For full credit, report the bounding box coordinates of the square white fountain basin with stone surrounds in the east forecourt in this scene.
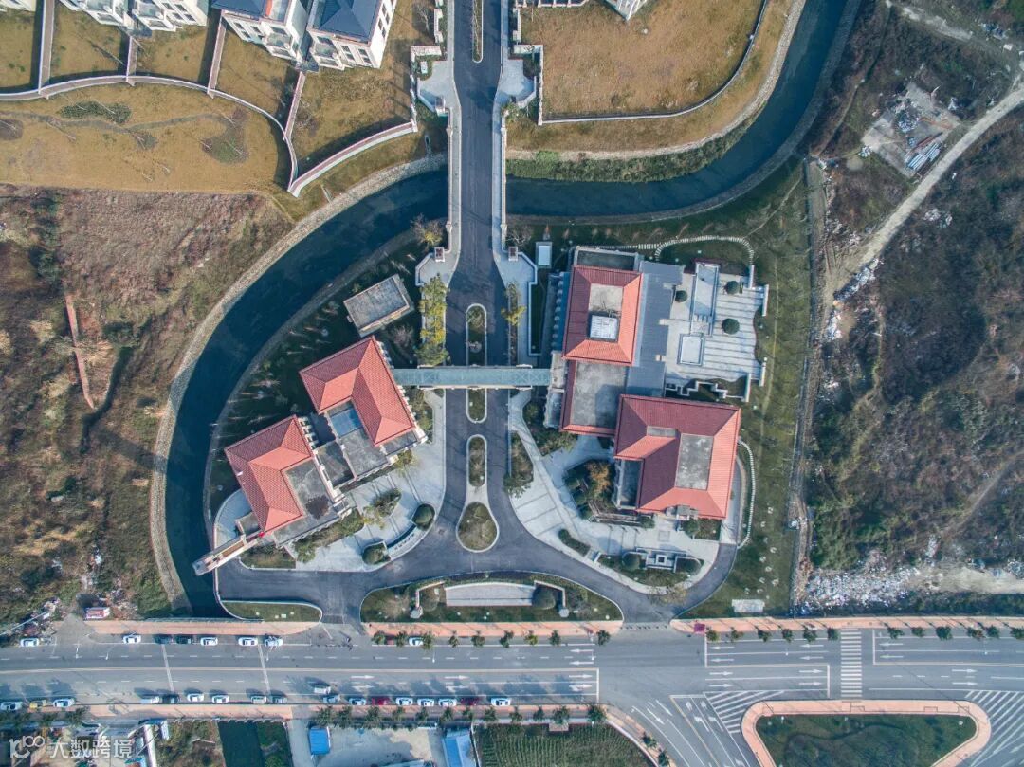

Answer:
[622,547,702,572]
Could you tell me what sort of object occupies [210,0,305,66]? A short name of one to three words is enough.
house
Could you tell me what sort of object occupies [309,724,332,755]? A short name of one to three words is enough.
shed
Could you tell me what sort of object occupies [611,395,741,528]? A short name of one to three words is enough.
building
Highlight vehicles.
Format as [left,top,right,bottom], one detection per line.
[162,694,180,703]
[240,636,258,644]
[312,685,332,695]
[28,699,49,709]
[492,697,509,706]
[21,638,40,646]
[155,634,173,643]
[407,637,424,645]
[55,697,74,707]
[139,695,160,705]
[417,697,434,706]
[124,634,142,643]
[323,694,341,703]
[382,636,399,644]
[439,697,457,706]
[462,696,479,705]
[349,696,367,705]
[2,700,21,709]
[372,696,389,705]
[396,697,413,705]
[271,696,289,705]
[201,636,219,645]
[187,692,205,700]
[178,634,195,643]
[212,694,230,702]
